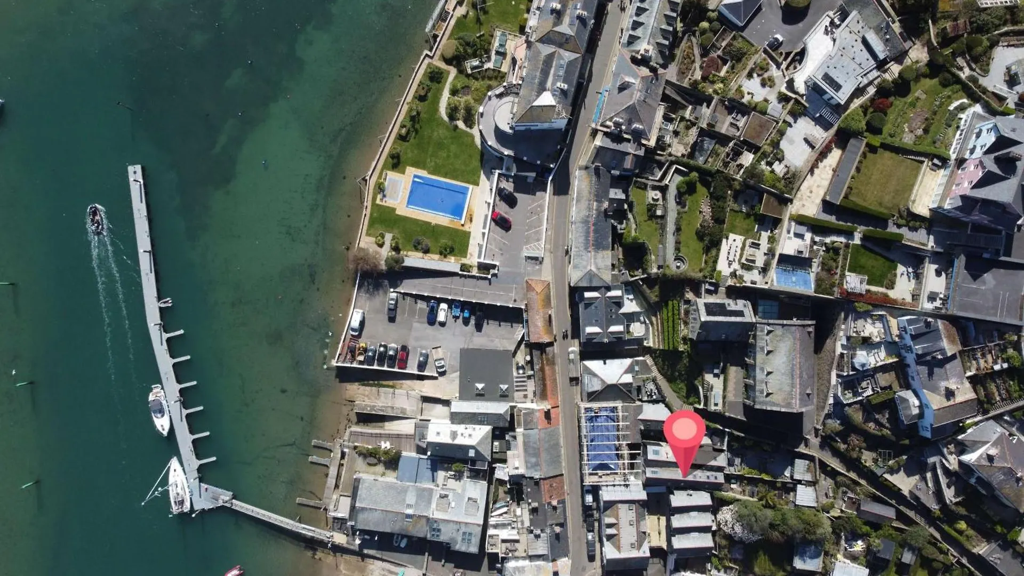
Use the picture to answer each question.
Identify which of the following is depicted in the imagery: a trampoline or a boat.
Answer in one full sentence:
I can see a boat in this picture.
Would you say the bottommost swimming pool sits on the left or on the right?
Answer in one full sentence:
It is on the right.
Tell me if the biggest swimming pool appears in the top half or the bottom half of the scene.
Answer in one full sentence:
The biggest swimming pool sits in the top half of the picture.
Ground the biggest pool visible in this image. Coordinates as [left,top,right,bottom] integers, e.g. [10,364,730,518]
[405,173,473,224]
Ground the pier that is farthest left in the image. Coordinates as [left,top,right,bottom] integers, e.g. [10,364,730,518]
[128,165,235,511]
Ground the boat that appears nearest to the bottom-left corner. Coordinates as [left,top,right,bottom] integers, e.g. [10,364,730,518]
[144,457,192,514]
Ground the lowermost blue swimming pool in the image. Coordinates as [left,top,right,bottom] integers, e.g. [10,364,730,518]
[772,267,814,292]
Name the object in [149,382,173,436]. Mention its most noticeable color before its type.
white boat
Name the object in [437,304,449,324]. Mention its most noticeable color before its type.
white vehicle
